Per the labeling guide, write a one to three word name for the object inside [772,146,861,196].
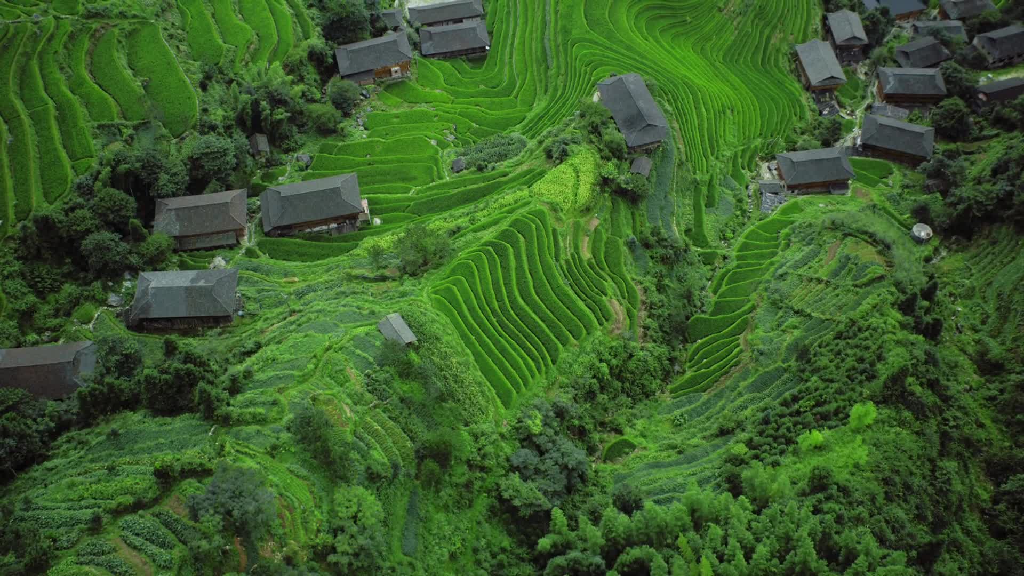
house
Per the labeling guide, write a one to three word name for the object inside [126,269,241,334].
house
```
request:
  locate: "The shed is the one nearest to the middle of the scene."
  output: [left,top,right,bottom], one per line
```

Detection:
[378,312,416,358]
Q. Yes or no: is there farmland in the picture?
Yes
